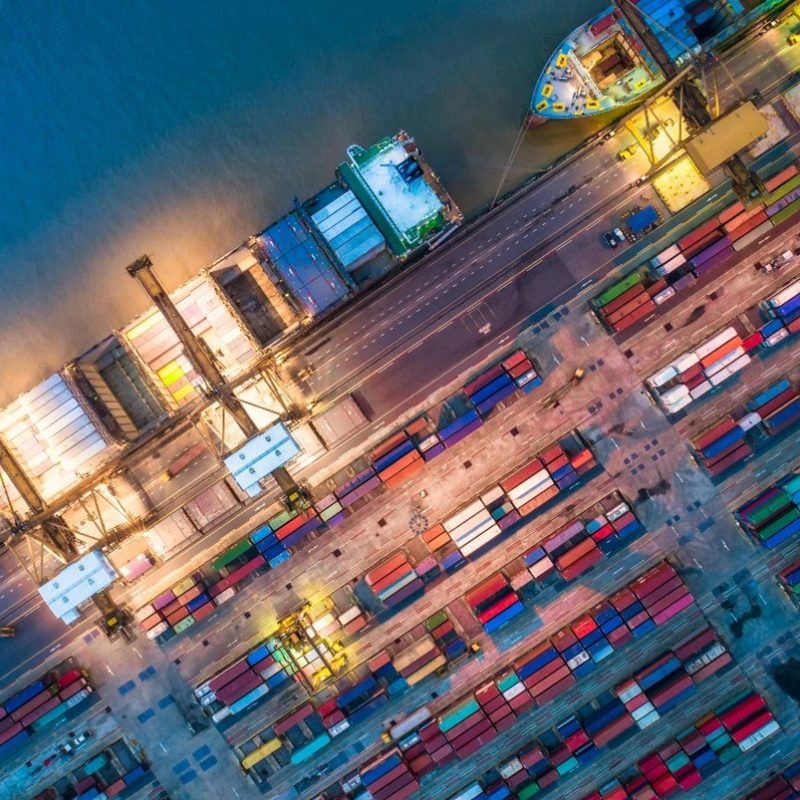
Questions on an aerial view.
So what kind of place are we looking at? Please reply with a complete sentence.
This looks like a port.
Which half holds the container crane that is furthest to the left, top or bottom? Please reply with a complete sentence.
The container crane that is furthest to the left is in the bottom half of the image.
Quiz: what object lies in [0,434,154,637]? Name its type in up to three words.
container crane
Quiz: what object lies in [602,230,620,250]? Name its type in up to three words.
car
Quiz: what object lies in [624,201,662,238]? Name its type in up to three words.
trailer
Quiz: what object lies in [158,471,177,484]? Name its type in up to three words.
vehicle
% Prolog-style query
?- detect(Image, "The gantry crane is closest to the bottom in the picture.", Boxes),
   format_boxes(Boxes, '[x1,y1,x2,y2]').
[280,599,353,689]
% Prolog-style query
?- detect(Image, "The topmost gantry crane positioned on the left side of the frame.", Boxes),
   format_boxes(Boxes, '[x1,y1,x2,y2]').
[119,249,312,515]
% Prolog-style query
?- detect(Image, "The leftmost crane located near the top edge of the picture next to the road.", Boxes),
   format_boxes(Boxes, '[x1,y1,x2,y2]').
[598,0,773,205]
